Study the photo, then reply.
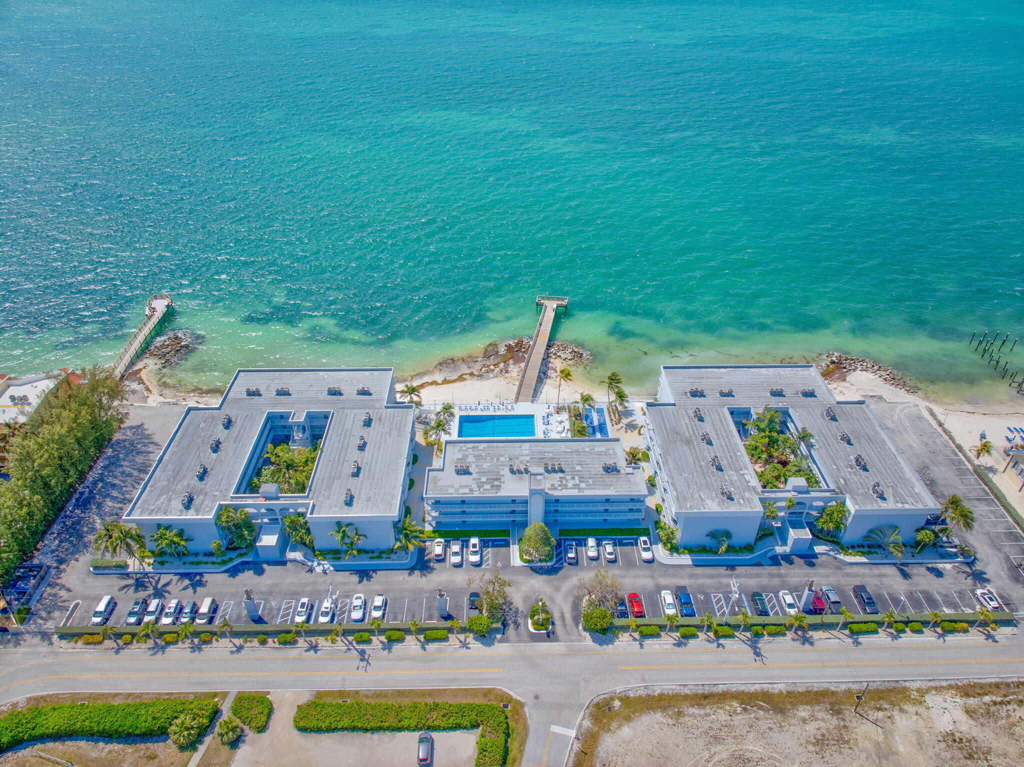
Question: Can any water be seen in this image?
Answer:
Yes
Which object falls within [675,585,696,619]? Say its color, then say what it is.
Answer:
blue truck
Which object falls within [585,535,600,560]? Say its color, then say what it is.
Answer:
white car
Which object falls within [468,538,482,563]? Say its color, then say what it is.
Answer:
white car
